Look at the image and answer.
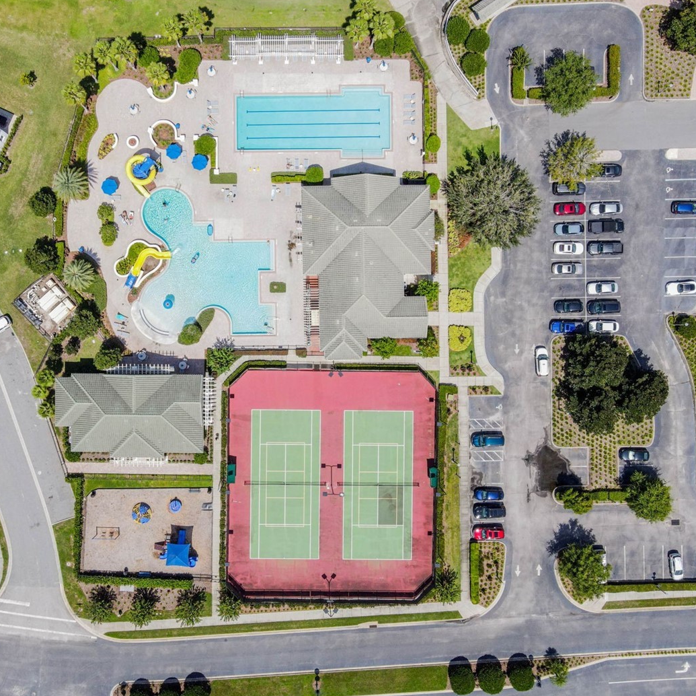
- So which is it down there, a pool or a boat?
pool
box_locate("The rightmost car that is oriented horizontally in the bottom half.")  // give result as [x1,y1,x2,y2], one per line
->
[617,448,649,462]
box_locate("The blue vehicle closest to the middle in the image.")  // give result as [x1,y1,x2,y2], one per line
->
[472,432,503,447]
